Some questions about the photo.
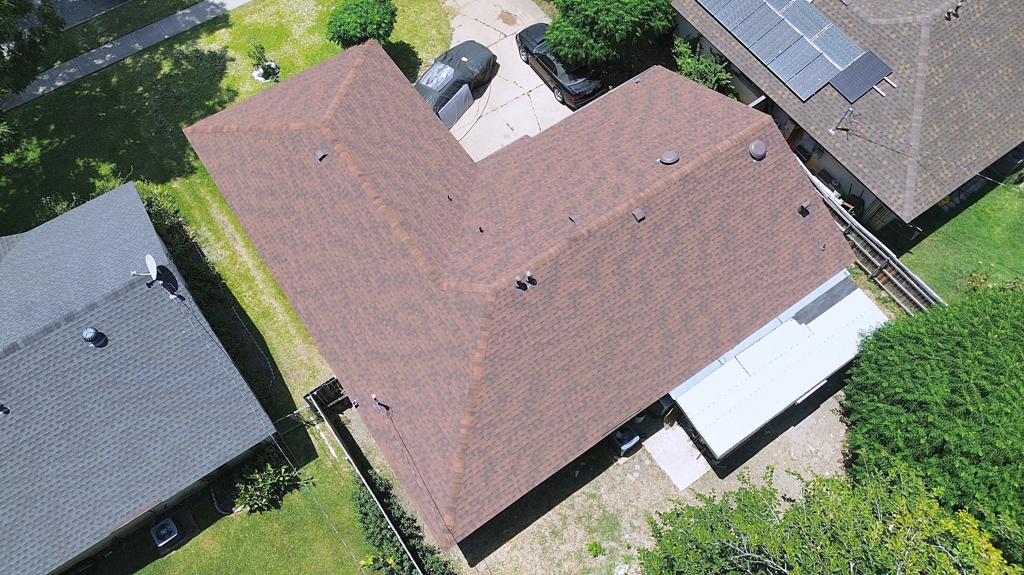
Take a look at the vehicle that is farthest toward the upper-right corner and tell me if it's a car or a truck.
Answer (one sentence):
What you see as the vehicle that is farthest toward the upper-right corner is a car.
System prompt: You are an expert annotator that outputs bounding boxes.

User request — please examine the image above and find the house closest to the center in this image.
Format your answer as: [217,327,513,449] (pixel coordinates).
[183,37,855,555]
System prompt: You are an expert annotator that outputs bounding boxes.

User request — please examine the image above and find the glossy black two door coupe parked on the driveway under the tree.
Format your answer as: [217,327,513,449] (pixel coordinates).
[514,19,611,109]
